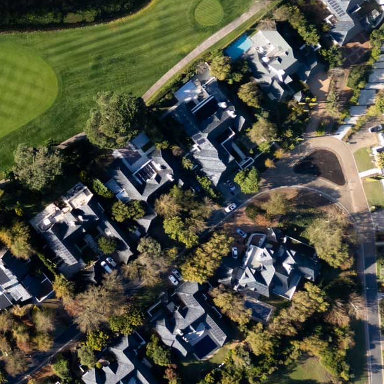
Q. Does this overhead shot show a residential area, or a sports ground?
residential area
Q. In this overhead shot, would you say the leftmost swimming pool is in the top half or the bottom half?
bottom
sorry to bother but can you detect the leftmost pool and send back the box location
[193,339,216,361]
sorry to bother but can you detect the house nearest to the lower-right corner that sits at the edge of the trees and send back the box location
[231,232,319,306]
